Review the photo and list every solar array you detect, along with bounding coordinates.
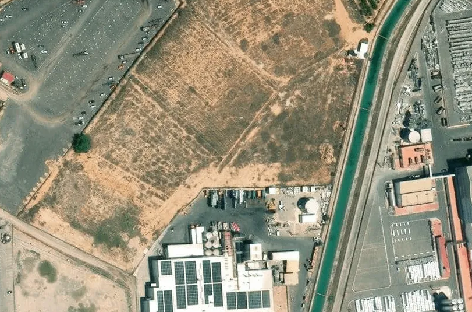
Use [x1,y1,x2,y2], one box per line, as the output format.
[187,285,198,305]
[214,284,223,306]
[226,293,237,310]
[263,290,271,307]
[157,290,164,312]
[185,261,197,284]
[204,284,213,304]
[202,261,212,282]
[237,292,247,310]
[212,263,222,282]
[174,262,184,285]
[176,286,187,309]
[160,261,172,276]
[164,290,173,312]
